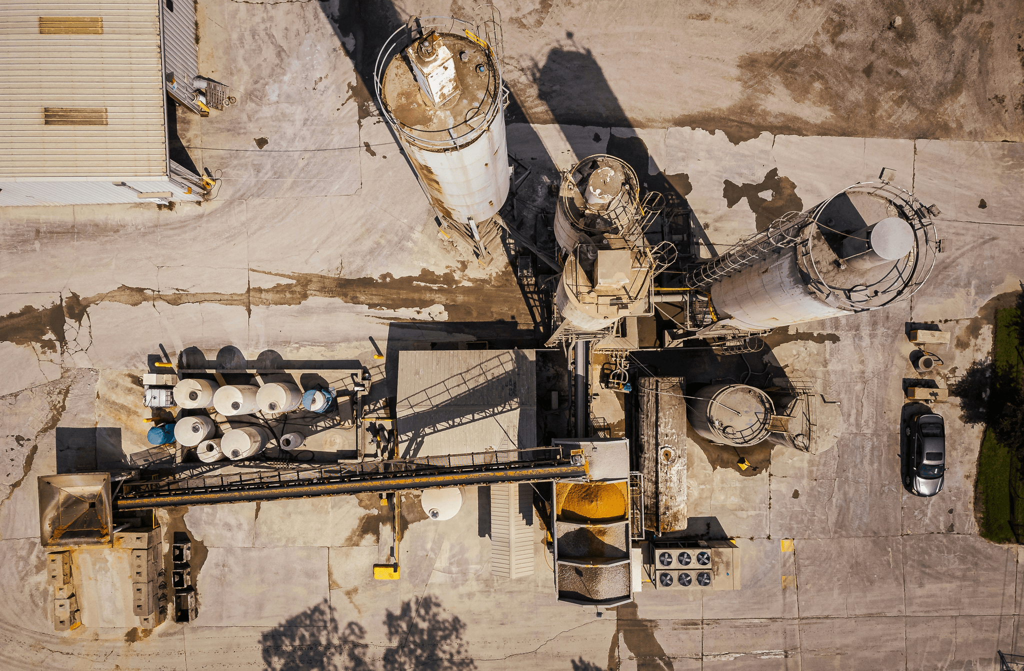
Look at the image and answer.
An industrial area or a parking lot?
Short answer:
industrial area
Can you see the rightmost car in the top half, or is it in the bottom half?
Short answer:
bottom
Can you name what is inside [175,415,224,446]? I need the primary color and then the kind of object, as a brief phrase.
white storage tank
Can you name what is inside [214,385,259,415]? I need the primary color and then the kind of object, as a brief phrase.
white storage tank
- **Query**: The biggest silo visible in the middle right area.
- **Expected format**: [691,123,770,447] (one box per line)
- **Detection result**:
[670,180,940,371]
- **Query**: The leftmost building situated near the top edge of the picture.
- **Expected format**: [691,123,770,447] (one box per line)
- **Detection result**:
[0,0,204,199]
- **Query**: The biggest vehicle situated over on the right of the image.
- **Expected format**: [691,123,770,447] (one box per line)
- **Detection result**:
[905,413,949,498]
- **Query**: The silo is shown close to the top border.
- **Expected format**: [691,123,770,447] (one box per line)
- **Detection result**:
[381,5,529,261]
